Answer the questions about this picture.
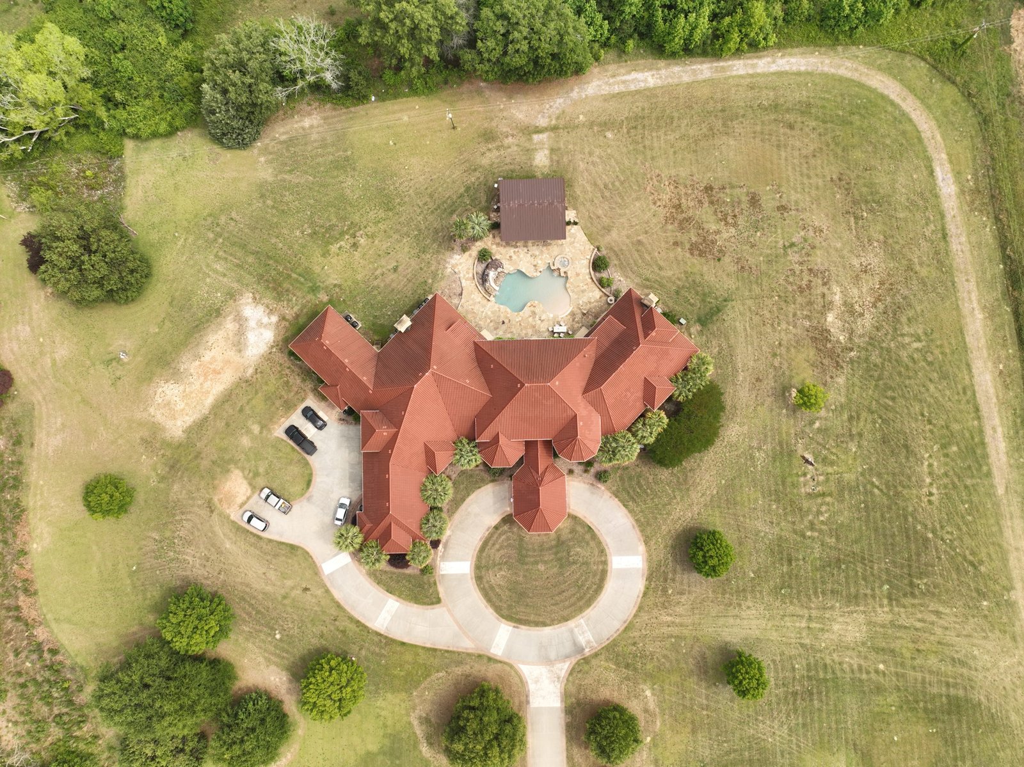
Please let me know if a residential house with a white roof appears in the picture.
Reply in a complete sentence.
No, I can see no residential house with a white roof in this picture.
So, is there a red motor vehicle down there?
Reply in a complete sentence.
No, there's no red motor vehicle here.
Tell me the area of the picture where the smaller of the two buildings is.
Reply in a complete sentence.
The smaller of the two buildings appears toward the top of the photo.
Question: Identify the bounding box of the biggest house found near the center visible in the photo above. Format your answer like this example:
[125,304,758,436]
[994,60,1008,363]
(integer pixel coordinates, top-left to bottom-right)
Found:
[288,287,701,553]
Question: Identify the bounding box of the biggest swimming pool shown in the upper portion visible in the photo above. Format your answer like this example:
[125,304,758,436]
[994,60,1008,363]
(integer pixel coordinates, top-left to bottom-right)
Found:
[494,263,572,317]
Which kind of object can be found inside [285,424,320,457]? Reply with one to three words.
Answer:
truck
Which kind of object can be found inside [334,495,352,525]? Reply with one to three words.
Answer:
car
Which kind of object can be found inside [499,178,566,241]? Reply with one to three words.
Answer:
building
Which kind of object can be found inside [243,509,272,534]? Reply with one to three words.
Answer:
car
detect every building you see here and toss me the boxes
[288,287,701,553]
[499,178,566,241]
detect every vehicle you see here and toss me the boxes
[302,405,330,433]
[334,495,352,525]
[260,485,295,517]
[243,509,272,534]
[285,424,320,457]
